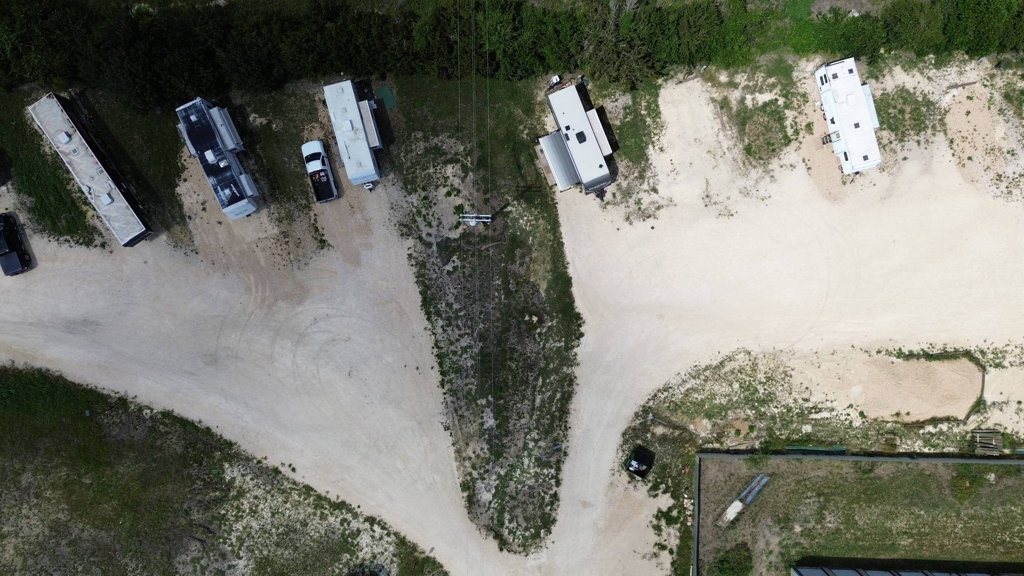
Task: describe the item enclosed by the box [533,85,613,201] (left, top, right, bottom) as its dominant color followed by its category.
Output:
white trailer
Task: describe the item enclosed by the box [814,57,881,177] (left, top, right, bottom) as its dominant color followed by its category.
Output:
white trailer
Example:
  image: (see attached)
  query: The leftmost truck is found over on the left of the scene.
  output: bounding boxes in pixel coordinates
[0,206,28,276]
